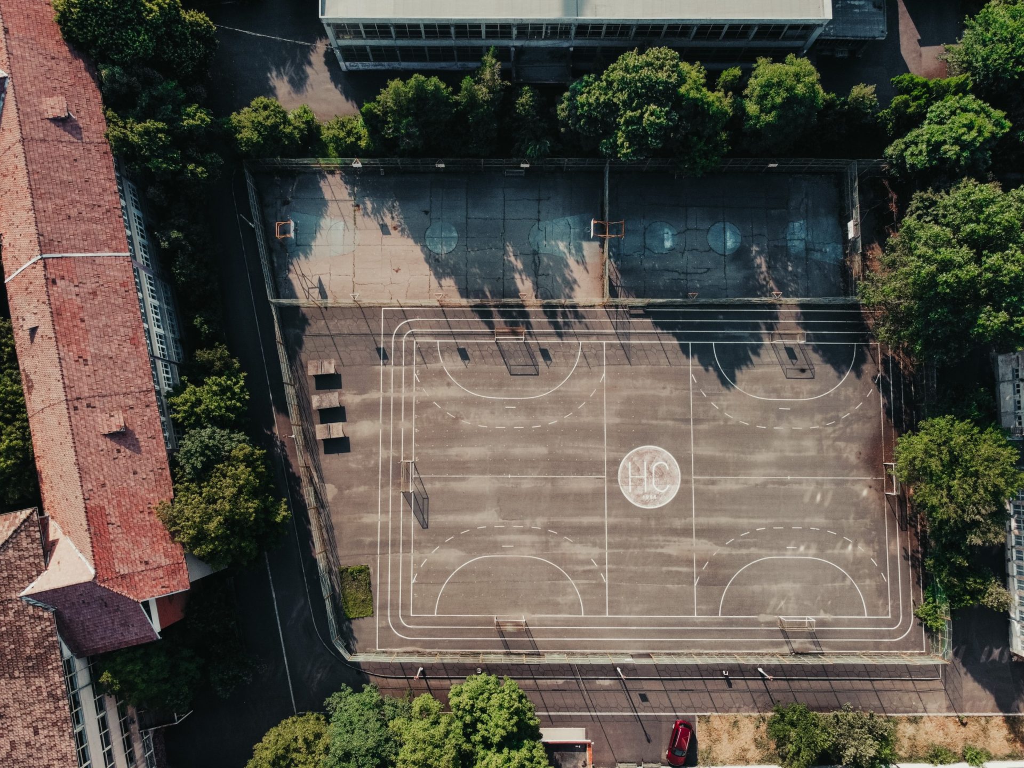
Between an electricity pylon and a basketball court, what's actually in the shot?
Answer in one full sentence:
Of the two, only a basketball court appears.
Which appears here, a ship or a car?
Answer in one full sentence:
Visible in the photo is a car.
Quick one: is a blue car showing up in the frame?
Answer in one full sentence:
No, no blue car can be seen from above.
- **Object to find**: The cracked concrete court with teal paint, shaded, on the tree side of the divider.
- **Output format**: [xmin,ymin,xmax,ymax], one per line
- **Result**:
[603,175,840,301]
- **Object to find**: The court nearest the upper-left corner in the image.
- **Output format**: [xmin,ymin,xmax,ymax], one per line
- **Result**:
[260,175,601,302]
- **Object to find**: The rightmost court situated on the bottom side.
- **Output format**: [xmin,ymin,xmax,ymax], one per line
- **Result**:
[690,342,890,618]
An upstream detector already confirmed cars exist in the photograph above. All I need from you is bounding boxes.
[666,718,693,766]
